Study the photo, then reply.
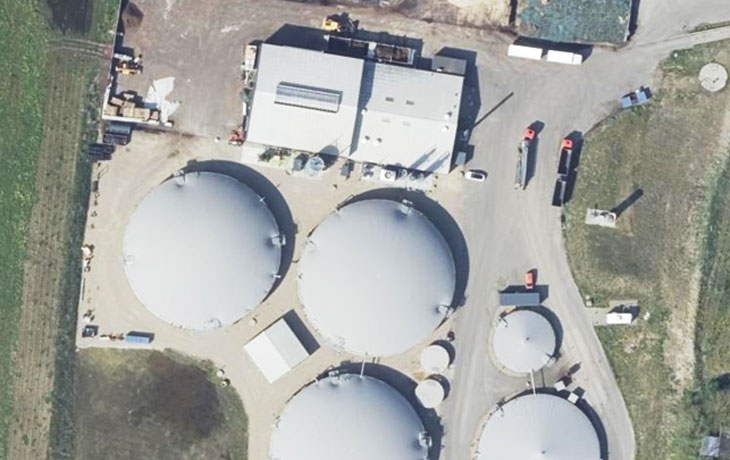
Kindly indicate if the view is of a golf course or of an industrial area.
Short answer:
industrial area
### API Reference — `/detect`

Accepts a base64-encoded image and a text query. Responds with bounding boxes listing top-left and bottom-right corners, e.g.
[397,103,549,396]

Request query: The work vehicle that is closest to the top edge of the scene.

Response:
[323,19,355,31]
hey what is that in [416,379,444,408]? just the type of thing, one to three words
silo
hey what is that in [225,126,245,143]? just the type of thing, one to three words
work vehicle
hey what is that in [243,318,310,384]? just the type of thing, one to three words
shed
